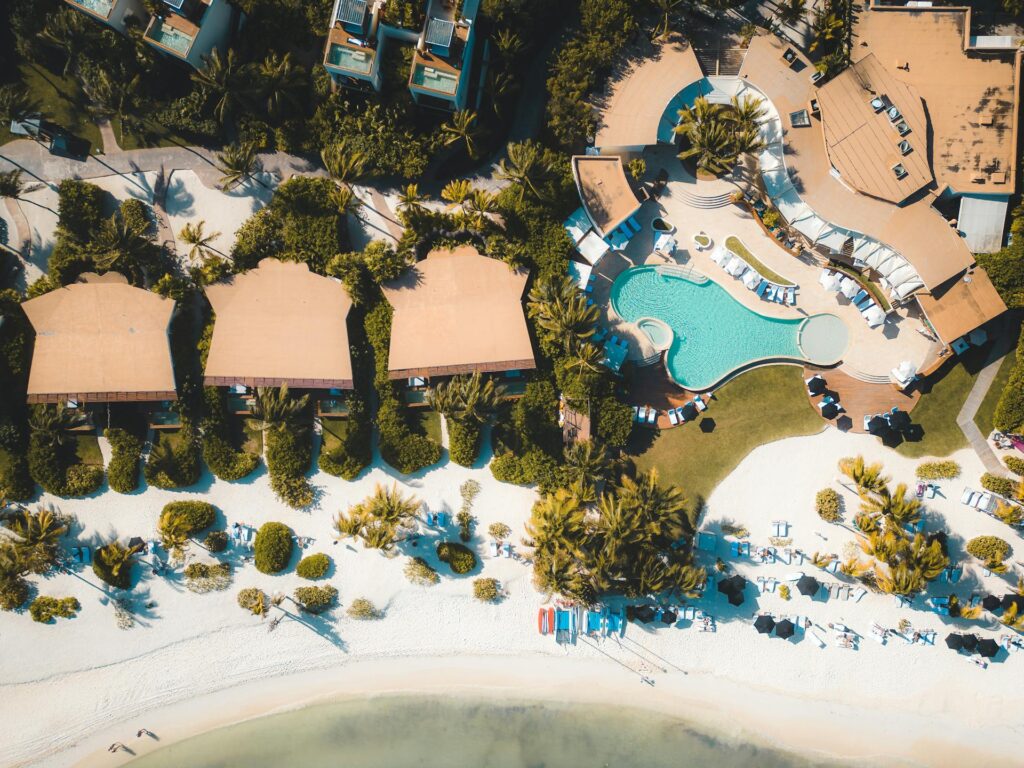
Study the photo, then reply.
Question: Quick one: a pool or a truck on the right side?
pool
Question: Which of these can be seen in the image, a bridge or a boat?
boat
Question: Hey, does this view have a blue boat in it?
Yes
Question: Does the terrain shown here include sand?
Yes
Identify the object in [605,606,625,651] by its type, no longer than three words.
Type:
boat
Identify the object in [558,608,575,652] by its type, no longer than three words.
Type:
boat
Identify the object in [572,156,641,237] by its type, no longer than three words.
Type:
building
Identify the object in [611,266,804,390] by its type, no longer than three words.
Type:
swimming pool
